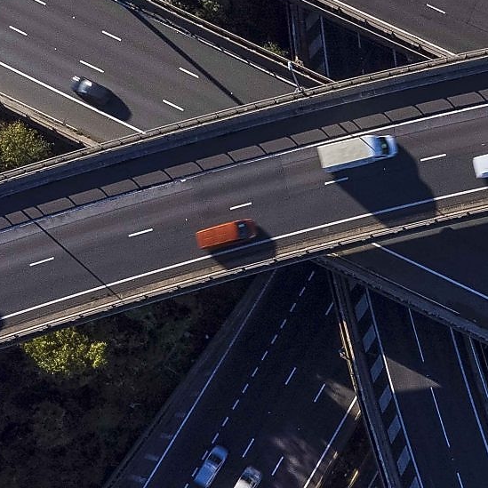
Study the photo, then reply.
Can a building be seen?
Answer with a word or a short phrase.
No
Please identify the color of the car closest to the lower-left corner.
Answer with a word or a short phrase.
blue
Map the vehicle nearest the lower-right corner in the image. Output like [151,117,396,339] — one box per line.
[237,468,262,488]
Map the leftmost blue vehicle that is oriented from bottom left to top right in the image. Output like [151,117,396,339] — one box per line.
[198,445,235,488]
